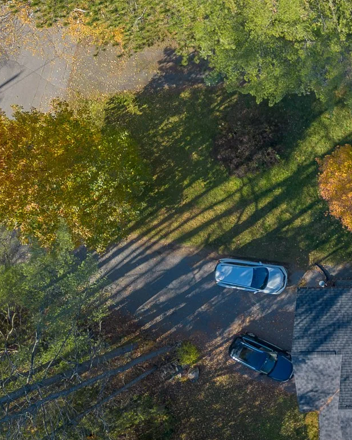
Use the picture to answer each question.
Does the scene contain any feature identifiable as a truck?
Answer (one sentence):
No, I can see no truck in this picture.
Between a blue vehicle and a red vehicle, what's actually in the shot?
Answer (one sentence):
The one in the frame is a blue vehicle.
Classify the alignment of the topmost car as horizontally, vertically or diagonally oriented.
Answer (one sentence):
Seen from above, the topmost car lies horizontally.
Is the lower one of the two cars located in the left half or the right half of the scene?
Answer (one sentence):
The lower one of the two cars sits on the right side.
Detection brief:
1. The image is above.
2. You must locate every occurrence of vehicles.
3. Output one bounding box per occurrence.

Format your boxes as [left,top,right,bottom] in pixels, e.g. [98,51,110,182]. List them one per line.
[217,259,290,296]
[227,331,293,381]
